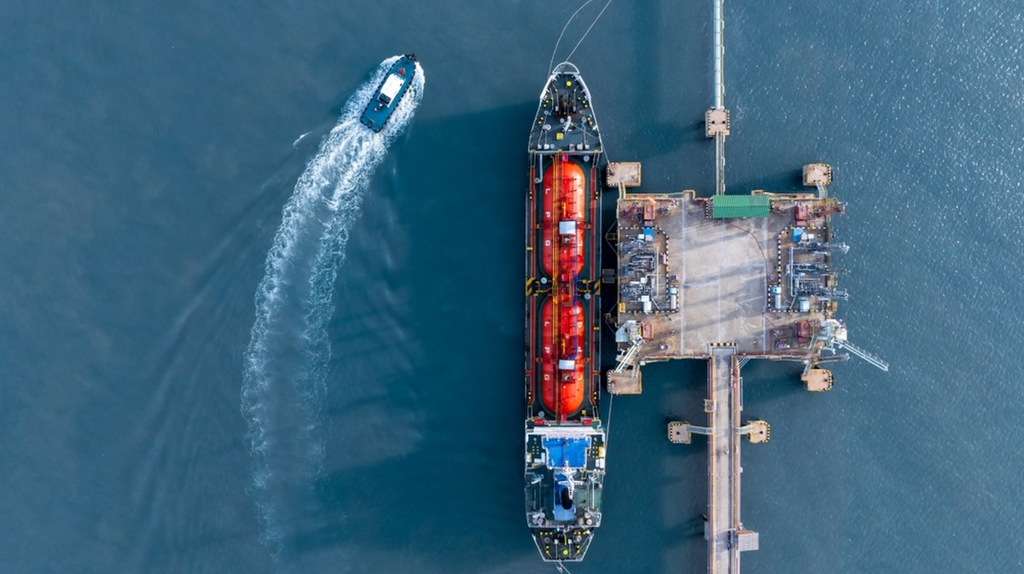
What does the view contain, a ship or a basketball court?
ship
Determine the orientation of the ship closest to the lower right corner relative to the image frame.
up and down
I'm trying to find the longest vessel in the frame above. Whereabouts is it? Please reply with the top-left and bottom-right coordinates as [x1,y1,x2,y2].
[524,61,606,561]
